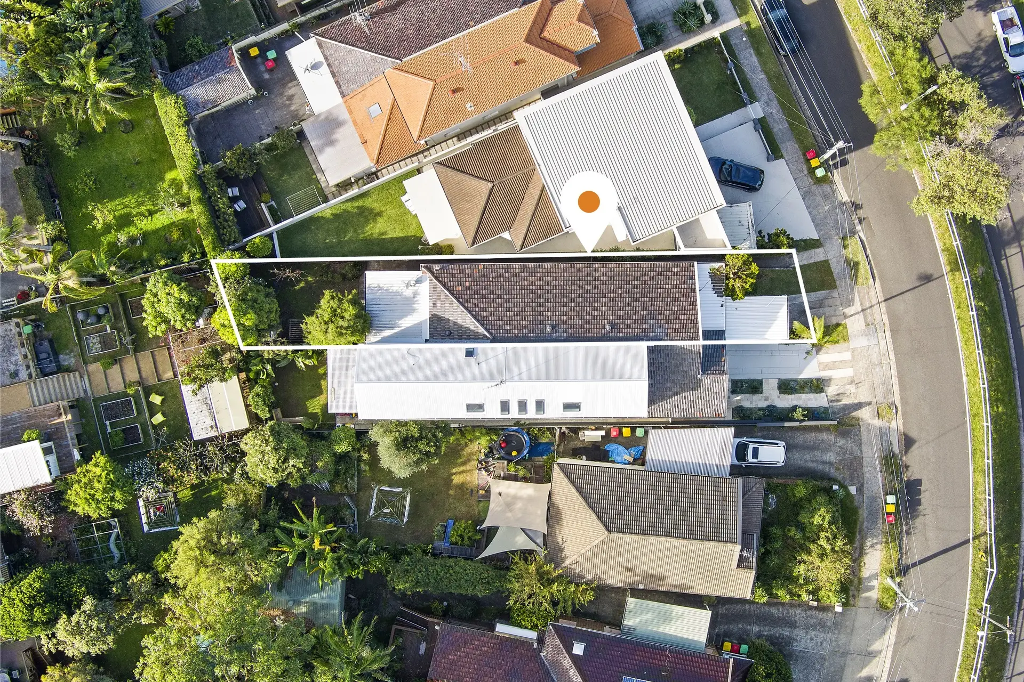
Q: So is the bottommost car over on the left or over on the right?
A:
right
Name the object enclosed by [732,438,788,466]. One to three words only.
car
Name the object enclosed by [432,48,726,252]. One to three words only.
house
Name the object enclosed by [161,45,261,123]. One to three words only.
building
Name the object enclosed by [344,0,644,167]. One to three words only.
house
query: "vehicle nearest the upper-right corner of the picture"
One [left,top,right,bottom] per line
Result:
[995,5,1024,72]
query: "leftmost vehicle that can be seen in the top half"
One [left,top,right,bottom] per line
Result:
[711,157,765,191]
